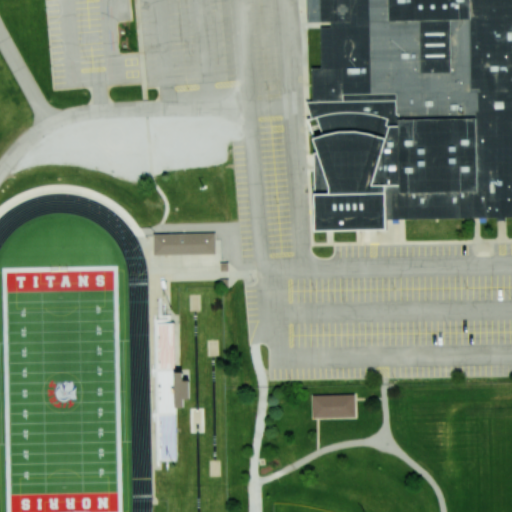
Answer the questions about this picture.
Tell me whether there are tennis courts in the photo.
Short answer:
No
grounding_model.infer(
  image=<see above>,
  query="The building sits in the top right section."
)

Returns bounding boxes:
[308,0,512,230]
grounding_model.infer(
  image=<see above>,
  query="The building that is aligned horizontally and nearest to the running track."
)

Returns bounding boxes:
[154,233,215,255]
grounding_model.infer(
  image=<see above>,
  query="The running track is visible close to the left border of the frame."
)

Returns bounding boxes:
[0,184,160,512]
